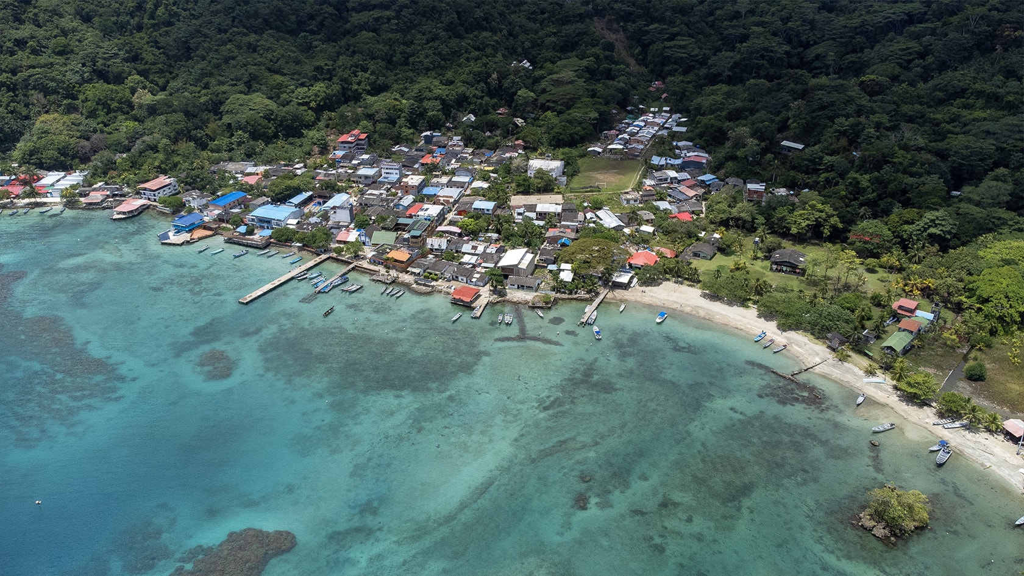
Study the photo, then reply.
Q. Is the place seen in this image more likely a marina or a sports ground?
marina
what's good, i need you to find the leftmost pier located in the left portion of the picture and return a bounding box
[240,255,330,306]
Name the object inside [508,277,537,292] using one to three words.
house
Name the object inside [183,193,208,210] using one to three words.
house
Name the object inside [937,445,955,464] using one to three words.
boat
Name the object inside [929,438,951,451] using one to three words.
boat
